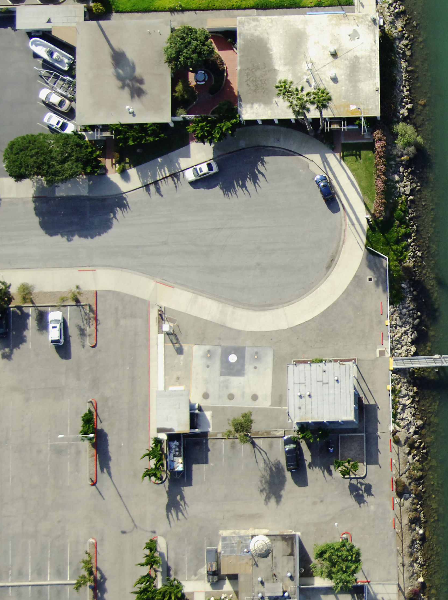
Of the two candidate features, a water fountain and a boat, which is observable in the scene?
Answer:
boat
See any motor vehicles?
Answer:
Yes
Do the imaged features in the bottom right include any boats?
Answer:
No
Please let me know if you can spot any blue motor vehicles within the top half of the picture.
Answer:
Yes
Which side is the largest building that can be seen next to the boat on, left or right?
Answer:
left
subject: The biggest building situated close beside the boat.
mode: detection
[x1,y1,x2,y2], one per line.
[76,18,174,127]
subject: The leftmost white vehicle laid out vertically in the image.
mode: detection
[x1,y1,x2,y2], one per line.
[49,311,67,348]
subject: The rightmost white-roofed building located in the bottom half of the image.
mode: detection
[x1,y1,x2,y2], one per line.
[286,360,360,429]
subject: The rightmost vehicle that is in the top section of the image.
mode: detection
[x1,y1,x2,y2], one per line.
[316,173,335,203]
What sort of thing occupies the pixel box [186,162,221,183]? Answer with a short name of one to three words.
car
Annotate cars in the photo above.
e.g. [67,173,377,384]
[283,435,300,473]
[316,173,335,203]
[43,112,77,137]
[186,162,221,183]
[49,311,67,348]
[40,89,74,114]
